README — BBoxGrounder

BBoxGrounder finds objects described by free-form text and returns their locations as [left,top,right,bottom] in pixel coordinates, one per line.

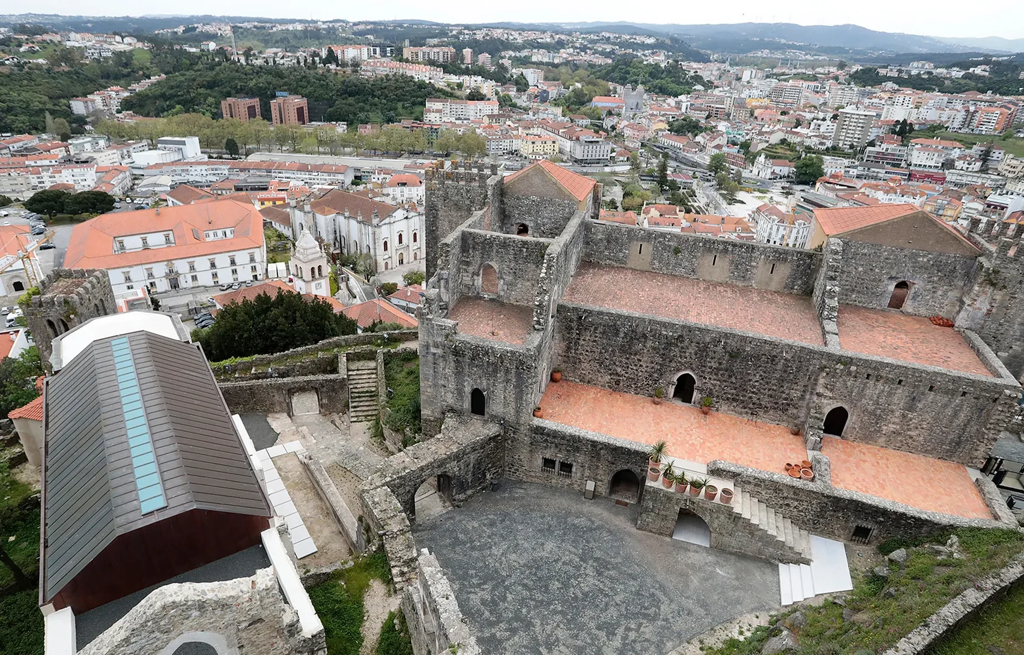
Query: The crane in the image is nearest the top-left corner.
[0,222,76,292]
